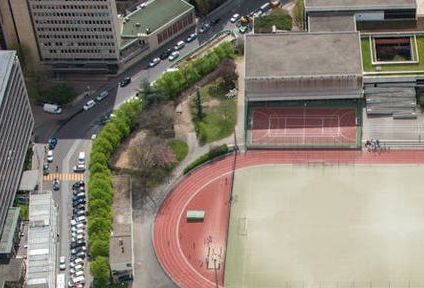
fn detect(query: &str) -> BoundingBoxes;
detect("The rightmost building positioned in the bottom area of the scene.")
[110,175,134,273]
